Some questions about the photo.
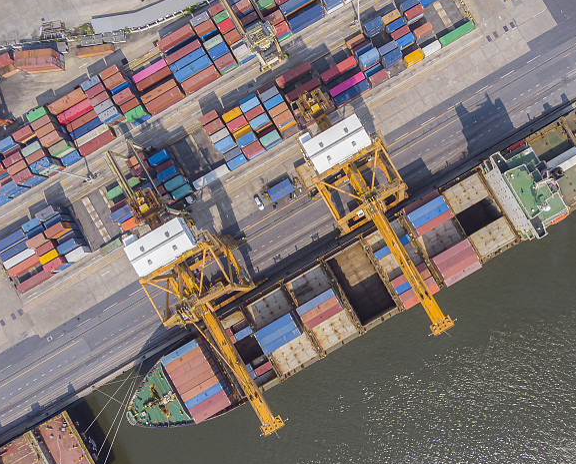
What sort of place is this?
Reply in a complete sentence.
The area seen from above is a port.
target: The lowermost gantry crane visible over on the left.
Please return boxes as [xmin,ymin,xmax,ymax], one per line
[116,184,281,434]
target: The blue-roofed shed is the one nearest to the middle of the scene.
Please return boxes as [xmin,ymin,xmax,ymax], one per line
[267,179,295,202]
